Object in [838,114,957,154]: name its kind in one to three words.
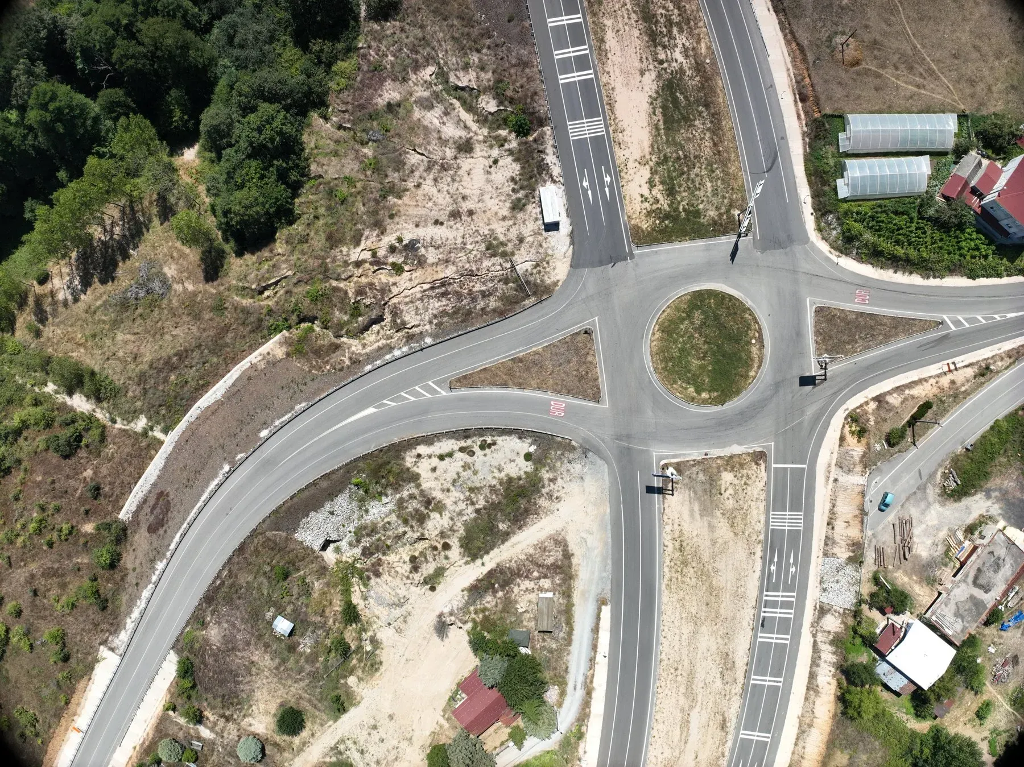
greenhouse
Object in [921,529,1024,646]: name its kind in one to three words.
building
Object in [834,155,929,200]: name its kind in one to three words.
greenhouse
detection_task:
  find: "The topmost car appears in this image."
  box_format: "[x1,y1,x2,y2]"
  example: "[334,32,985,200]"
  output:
[878,490,897,513]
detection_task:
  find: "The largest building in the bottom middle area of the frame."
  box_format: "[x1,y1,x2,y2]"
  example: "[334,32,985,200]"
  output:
[453,666,508,735]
